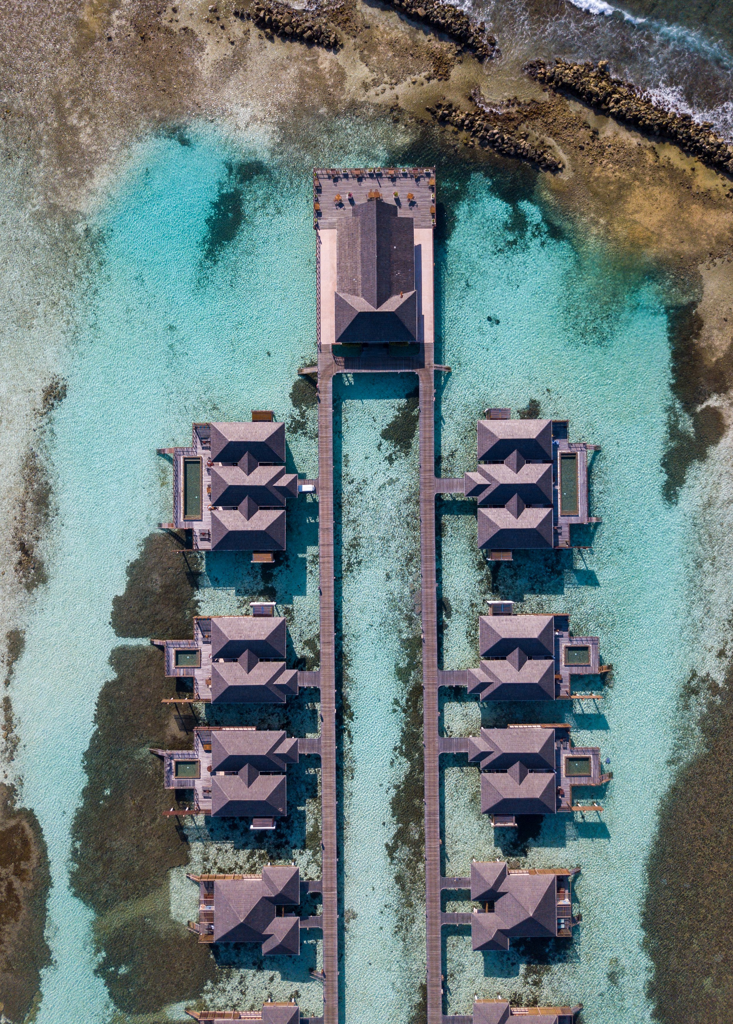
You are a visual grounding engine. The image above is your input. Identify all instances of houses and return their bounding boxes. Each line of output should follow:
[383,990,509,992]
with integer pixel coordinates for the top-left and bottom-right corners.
[187,851,300,956]
[151,724,299,829]
[153,600,299,704]
[473,982,582,1024]
[463,408,599,561]
[470,846,581,951]
[467,722,611,825]
[466,599,610,702]
[187,985,300,1024]
[159,409,299,563]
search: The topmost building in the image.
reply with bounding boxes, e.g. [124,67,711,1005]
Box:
[299,165,450,377]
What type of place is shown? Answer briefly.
residential area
